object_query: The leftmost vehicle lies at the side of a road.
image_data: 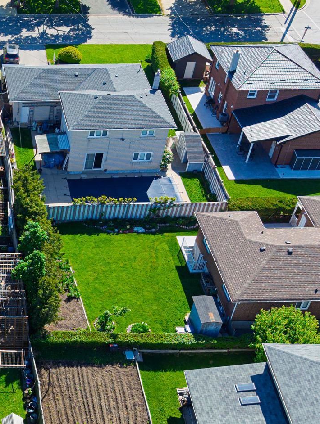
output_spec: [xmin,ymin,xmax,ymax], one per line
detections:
[1,44,21,64]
